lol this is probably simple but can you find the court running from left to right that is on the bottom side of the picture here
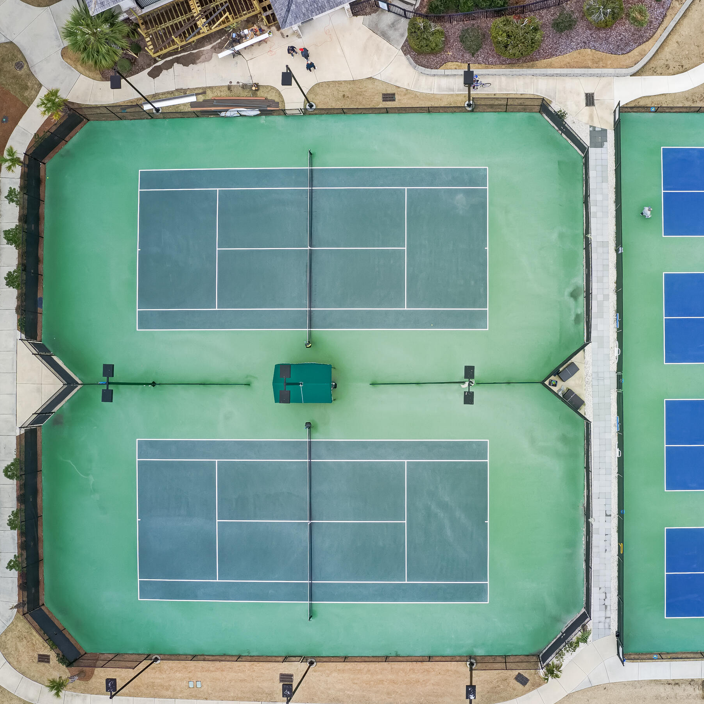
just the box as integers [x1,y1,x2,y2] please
[136,440,489,603]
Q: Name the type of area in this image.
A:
sports ground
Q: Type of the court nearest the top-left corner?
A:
tennis court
